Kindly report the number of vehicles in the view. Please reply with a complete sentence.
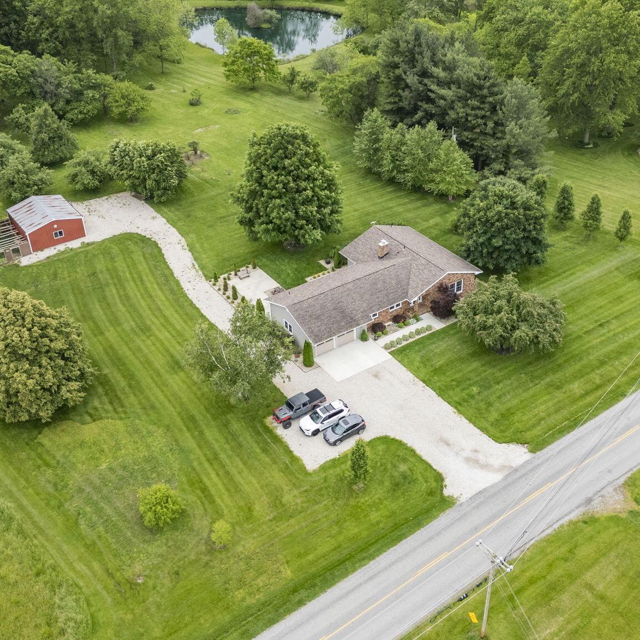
There are 3 vehicles in the image.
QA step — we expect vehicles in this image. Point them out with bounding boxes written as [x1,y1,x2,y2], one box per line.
[296,399,347,437]
[271,390,326,428]
[321,412,367,446]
